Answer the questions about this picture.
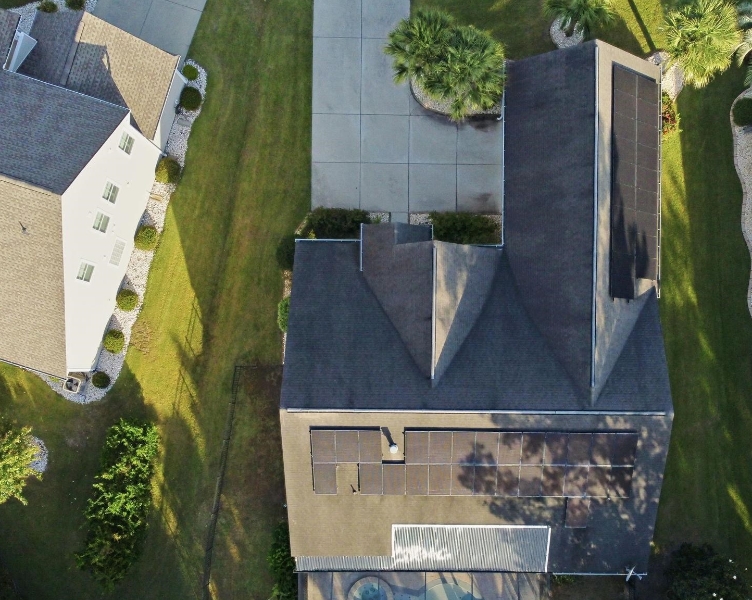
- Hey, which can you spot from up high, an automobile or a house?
house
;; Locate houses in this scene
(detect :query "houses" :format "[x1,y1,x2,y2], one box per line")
[0,4,199,384]
[280,40,672,575]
